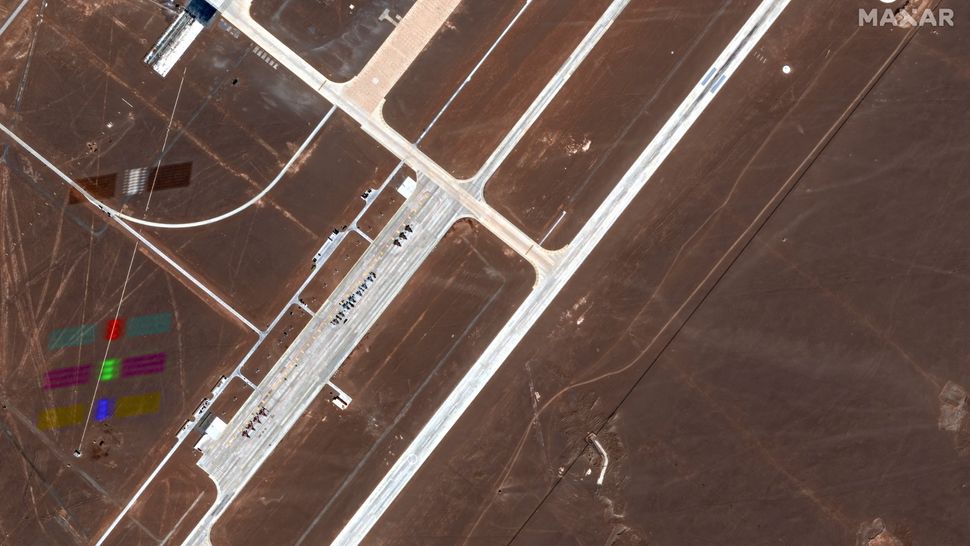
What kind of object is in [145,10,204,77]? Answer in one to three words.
hangar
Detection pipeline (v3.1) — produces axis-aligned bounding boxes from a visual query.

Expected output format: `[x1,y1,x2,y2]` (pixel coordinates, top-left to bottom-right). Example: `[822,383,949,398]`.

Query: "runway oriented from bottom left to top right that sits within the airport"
[331,0,791,546]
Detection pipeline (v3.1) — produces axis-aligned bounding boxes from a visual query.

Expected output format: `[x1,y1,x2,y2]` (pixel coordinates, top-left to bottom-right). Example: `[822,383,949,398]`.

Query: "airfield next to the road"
[179,0,791,546]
